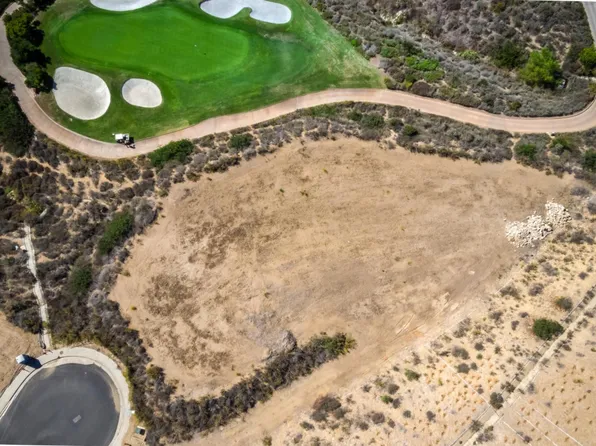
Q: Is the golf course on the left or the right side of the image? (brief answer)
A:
left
